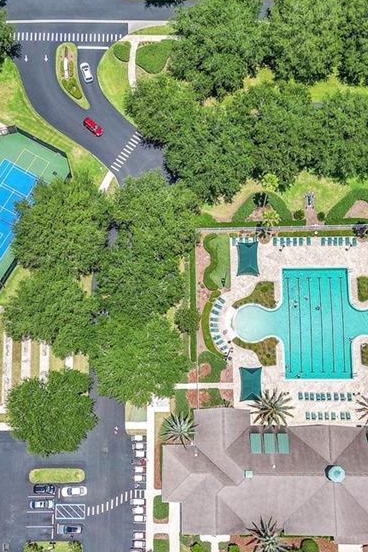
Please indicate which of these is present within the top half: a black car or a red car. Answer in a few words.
red car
